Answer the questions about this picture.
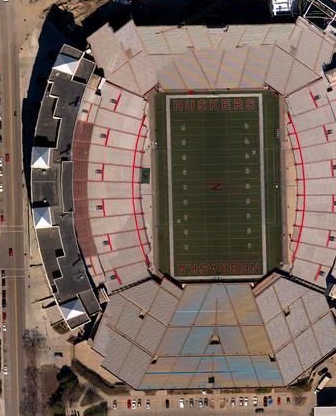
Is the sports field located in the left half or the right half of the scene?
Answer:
right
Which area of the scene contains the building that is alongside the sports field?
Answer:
left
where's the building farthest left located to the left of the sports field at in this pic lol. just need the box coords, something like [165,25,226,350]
[29,44,104,330]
